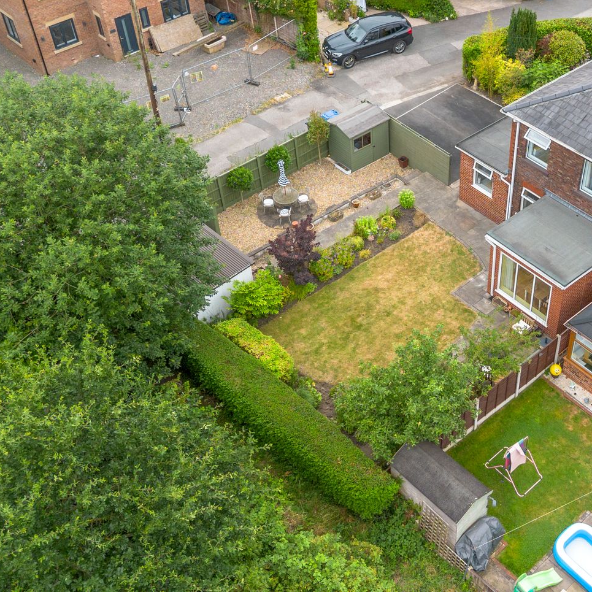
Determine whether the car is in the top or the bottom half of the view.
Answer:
top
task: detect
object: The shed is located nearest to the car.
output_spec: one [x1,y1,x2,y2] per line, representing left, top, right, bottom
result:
[326,104,392,174]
